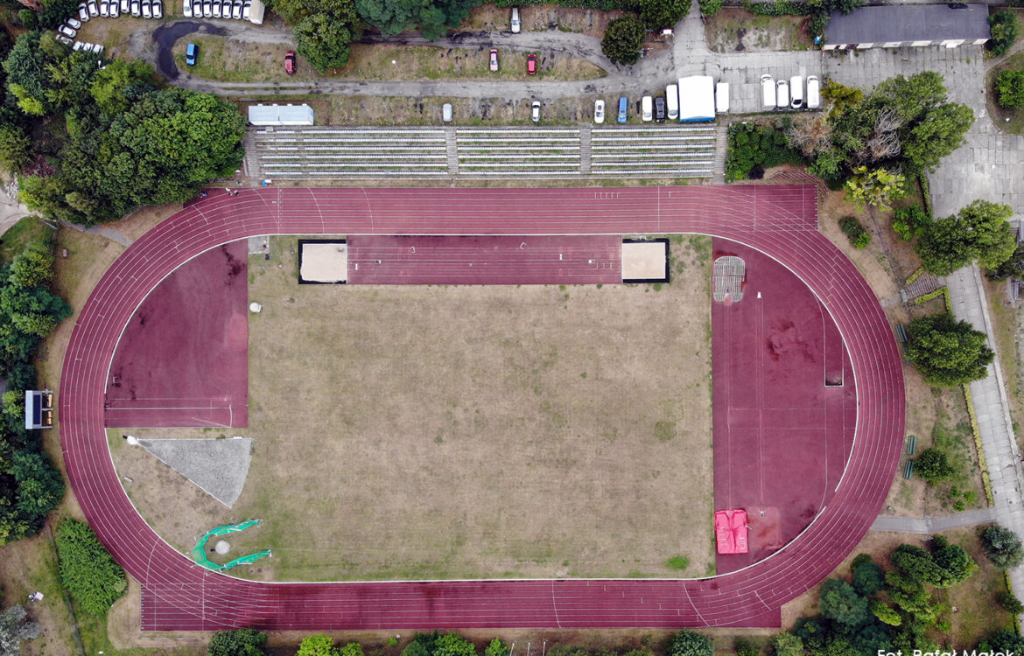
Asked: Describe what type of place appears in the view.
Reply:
sports ground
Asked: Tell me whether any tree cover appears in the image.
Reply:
Yes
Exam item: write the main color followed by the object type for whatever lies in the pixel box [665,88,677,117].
white vehicle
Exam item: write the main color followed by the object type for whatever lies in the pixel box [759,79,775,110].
white vehicle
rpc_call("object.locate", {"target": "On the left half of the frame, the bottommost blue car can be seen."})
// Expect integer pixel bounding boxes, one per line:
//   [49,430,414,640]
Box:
[187,44,199,67]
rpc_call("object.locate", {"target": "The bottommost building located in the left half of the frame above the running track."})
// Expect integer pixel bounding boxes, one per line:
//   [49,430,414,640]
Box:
[249,105,313,123]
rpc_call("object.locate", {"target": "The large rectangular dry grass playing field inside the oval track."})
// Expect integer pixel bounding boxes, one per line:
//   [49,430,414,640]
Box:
[108,233,719,582]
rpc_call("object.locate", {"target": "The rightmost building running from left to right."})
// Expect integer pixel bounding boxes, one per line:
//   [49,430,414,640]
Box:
[816,3,990,51]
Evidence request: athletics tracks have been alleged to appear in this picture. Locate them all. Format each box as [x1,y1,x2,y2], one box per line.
[59,182,906,632]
